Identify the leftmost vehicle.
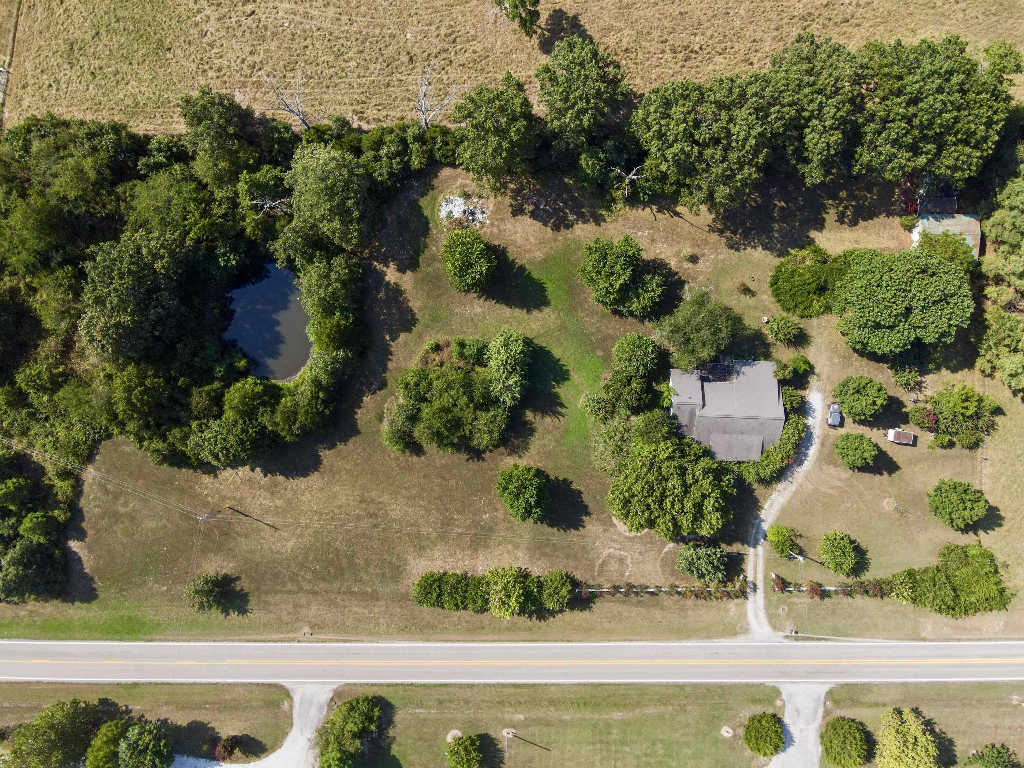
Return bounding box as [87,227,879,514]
[826,402,841,427]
